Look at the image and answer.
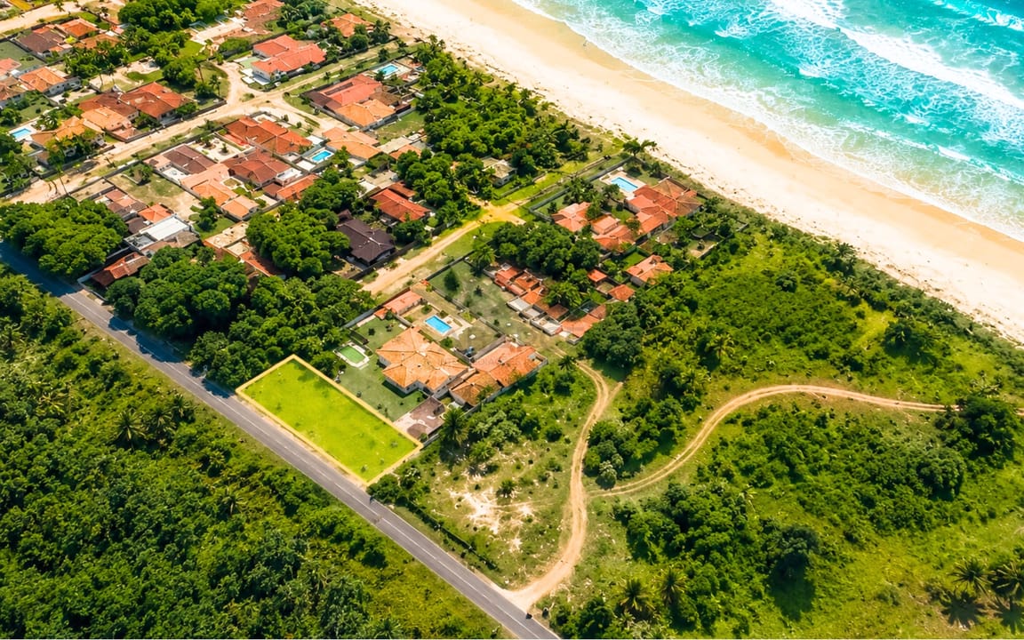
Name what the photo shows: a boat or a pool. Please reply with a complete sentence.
This aerial view contains a pool.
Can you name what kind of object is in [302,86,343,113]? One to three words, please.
shed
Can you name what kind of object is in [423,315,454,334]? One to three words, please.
swimming pool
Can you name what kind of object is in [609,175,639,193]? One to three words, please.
swimming pool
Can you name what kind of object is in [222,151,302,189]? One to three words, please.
house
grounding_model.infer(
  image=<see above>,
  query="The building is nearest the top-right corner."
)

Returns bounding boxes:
[629,178,705,236]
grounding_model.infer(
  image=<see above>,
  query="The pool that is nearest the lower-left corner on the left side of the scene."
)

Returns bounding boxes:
[340,343,369,366]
